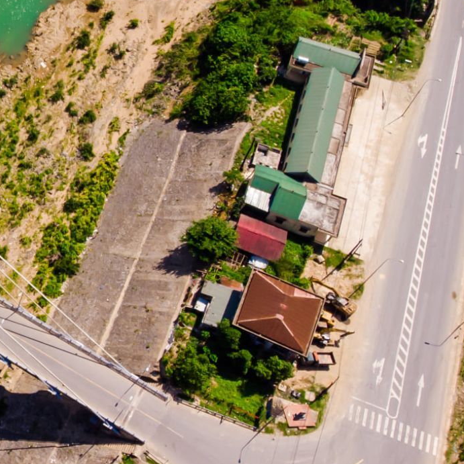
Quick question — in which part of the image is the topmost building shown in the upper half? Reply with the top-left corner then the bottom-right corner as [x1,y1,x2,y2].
[277,37,377,101]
